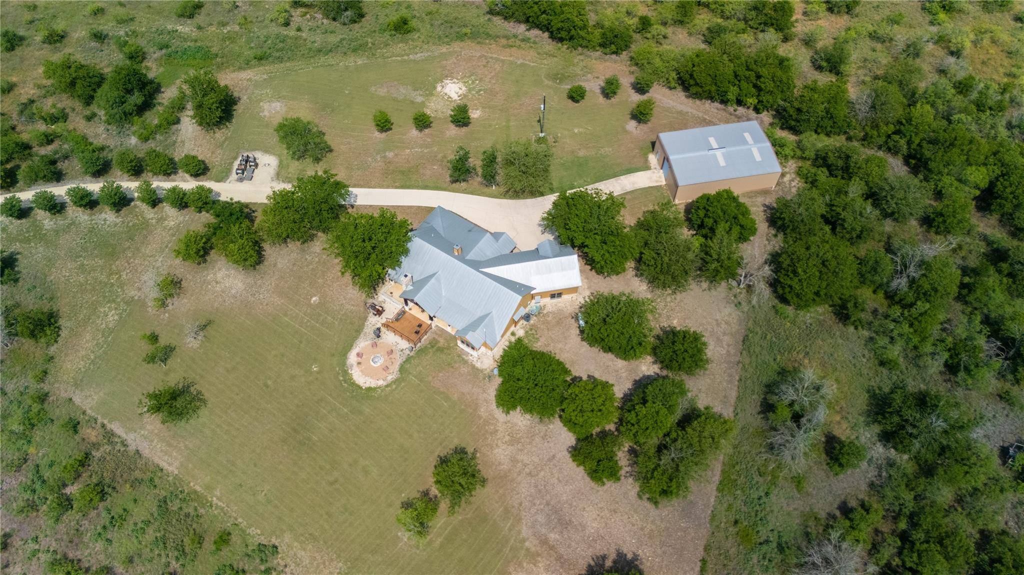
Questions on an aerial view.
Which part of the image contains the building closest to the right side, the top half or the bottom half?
top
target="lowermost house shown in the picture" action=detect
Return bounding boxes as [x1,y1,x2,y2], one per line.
[385,205,582,357]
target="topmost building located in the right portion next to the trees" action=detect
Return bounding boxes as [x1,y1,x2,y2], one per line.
[653,120,784,202]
